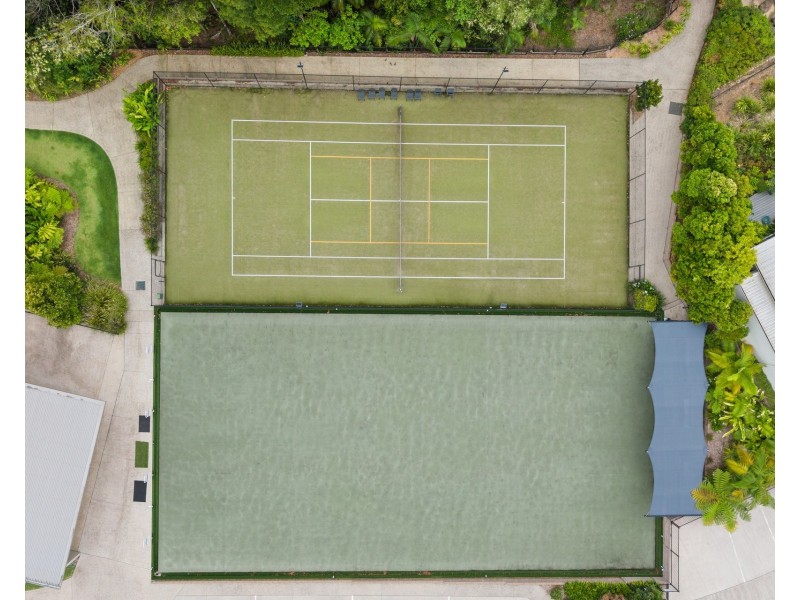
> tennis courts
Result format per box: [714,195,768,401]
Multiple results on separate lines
[163,87,630,308]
